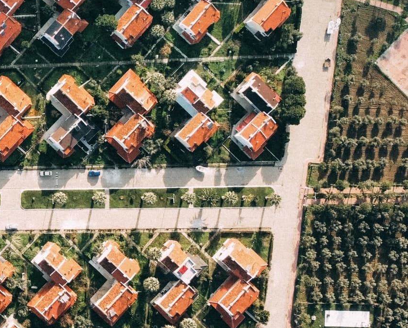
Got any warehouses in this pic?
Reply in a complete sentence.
No, no warehouse is visible in the scene.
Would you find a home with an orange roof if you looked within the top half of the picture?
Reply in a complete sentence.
Yes, there is a home with an orange roof within the top half of the picture.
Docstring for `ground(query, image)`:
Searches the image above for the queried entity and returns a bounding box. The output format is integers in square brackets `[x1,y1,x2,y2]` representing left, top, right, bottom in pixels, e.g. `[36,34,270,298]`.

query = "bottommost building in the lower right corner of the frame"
[321,310,369,327]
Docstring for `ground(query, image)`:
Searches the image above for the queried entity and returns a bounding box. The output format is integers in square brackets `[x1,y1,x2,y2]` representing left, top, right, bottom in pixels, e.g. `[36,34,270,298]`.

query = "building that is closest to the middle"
[169,114,216,152]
